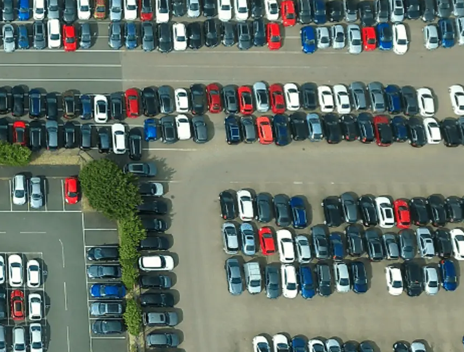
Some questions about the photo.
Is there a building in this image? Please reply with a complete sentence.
No, there's no building here.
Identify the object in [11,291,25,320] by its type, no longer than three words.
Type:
car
